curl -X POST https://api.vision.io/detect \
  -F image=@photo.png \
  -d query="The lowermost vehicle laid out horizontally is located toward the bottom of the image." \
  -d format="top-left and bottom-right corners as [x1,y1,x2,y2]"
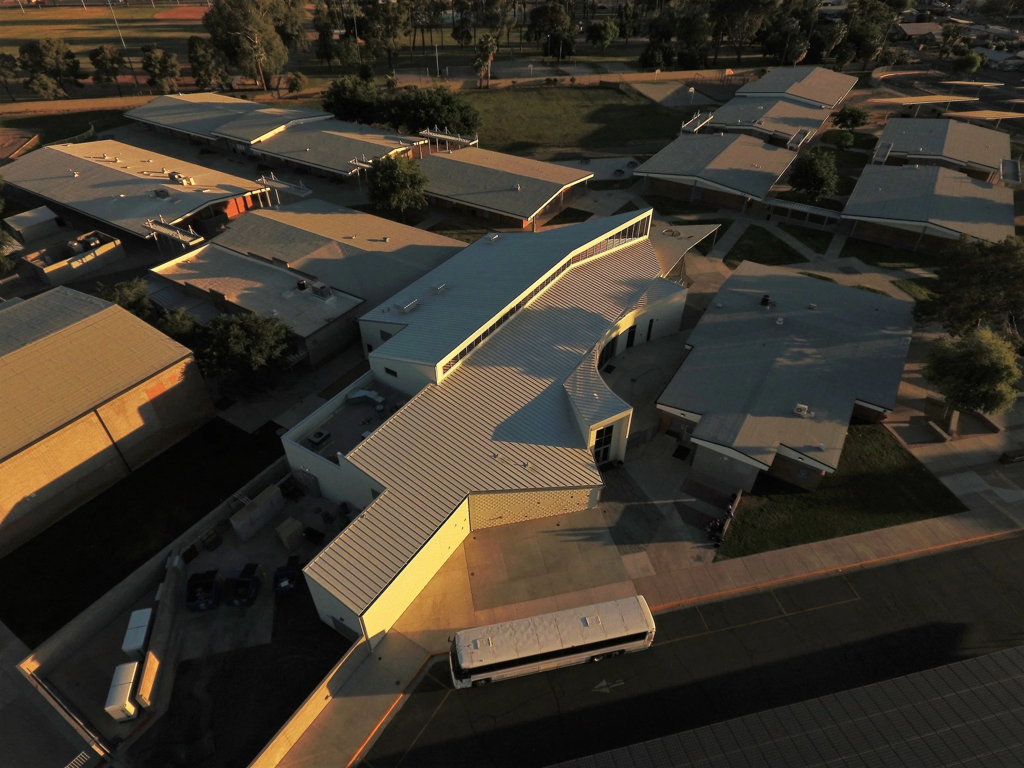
[449,601,656,691]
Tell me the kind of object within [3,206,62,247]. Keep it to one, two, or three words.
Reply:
shed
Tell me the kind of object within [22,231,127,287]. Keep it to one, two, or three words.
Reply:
building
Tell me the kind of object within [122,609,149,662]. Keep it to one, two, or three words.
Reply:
shipping container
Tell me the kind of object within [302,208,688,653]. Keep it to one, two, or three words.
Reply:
building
